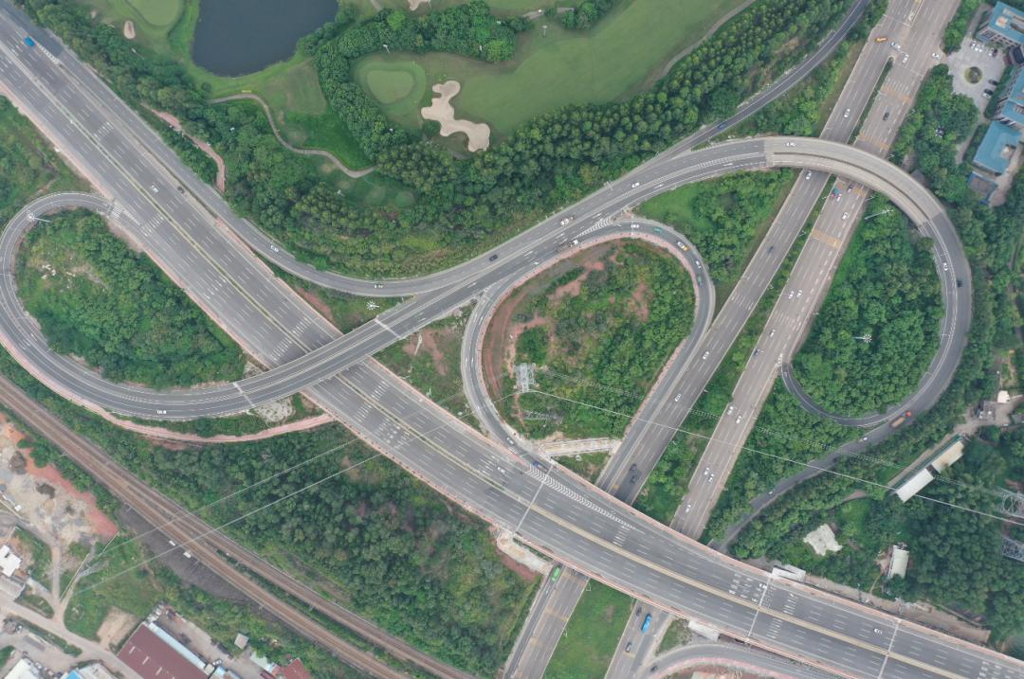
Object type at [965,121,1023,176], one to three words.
building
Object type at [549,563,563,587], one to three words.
vehicle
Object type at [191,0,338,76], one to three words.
pond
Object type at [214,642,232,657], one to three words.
vehicle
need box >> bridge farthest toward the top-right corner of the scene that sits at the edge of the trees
[764,136,945,225]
